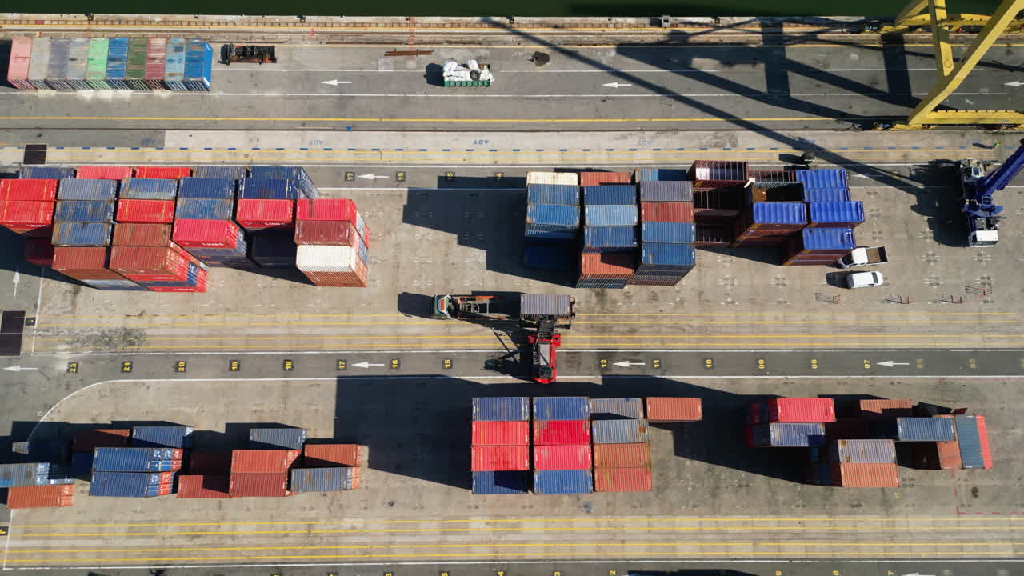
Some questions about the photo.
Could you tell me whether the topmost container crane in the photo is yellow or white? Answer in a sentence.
The topmost container crane looks yellow in the image.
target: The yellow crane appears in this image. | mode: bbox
[847,0,1024,131]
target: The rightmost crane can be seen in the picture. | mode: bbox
[942,138,1024,248]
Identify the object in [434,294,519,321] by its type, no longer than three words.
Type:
truck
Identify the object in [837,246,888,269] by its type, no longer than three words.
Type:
truck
